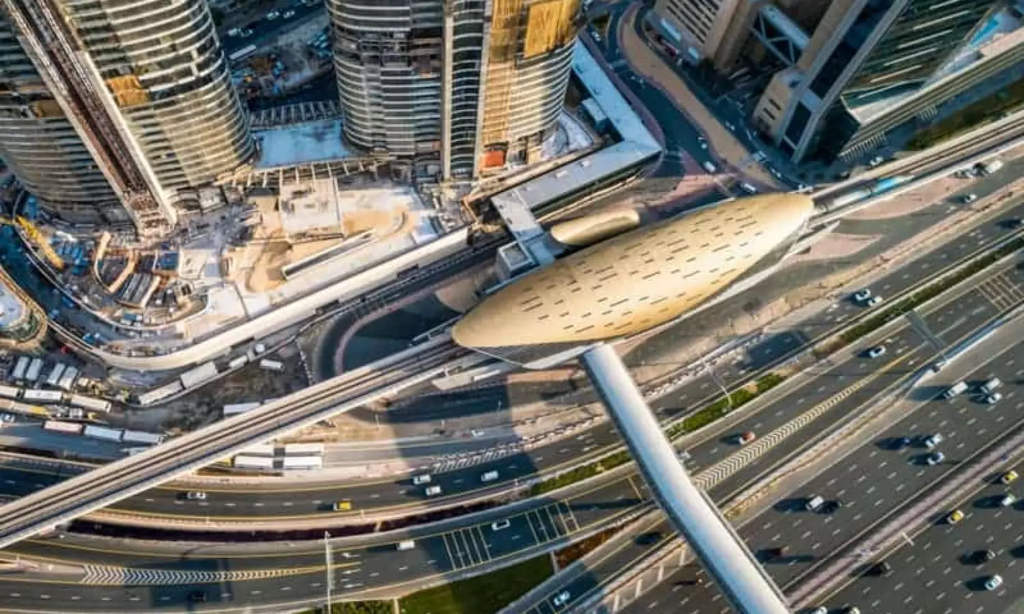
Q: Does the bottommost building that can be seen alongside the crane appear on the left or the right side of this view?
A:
left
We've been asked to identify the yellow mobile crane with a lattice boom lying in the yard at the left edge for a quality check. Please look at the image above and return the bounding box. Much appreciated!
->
[11,213,70,272]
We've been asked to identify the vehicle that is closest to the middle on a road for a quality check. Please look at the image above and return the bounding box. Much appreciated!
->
[478,469,501,482]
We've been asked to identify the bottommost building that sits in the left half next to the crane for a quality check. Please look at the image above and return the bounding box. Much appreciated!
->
[0,263,57,357]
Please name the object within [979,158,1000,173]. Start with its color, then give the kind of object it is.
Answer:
white vehicle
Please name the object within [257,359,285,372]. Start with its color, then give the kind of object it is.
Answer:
white vehicle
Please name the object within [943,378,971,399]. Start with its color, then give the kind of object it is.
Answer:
white truck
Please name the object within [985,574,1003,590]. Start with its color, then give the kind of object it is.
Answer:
white car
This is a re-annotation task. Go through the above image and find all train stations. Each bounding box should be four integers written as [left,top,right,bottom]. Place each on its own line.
[408,192,841,391]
